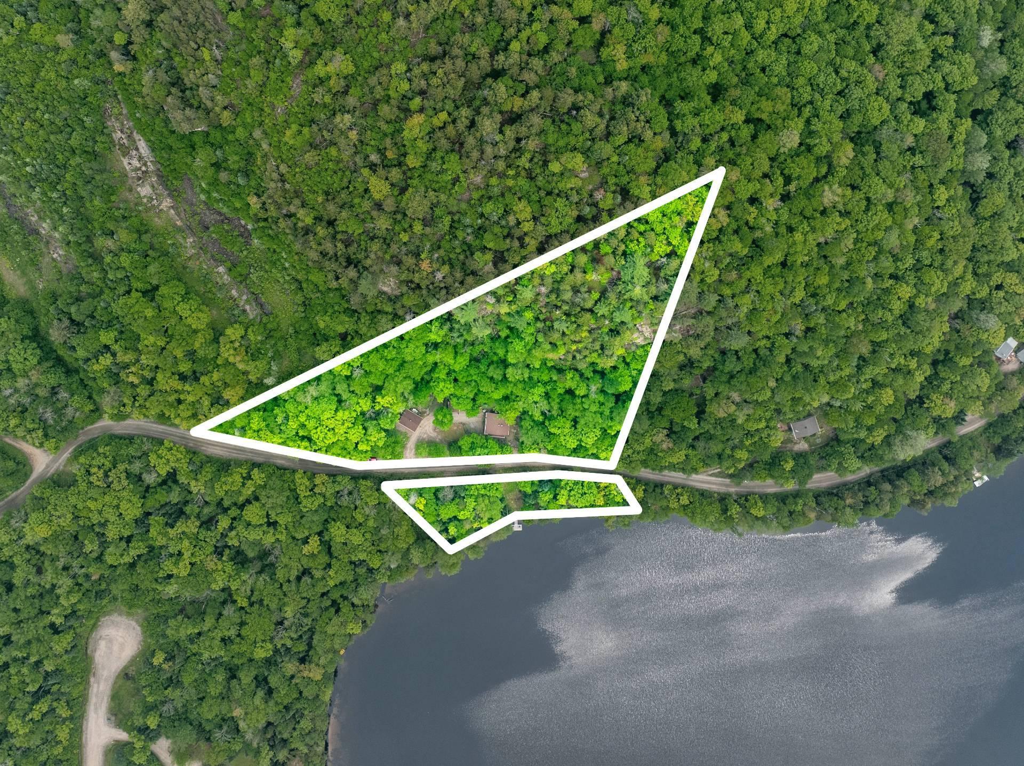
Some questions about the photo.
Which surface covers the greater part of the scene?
trees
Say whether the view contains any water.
Yes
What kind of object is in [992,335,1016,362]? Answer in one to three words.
house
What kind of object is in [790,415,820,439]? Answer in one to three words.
house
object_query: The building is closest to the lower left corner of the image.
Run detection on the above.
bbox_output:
[399,409,423,432]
